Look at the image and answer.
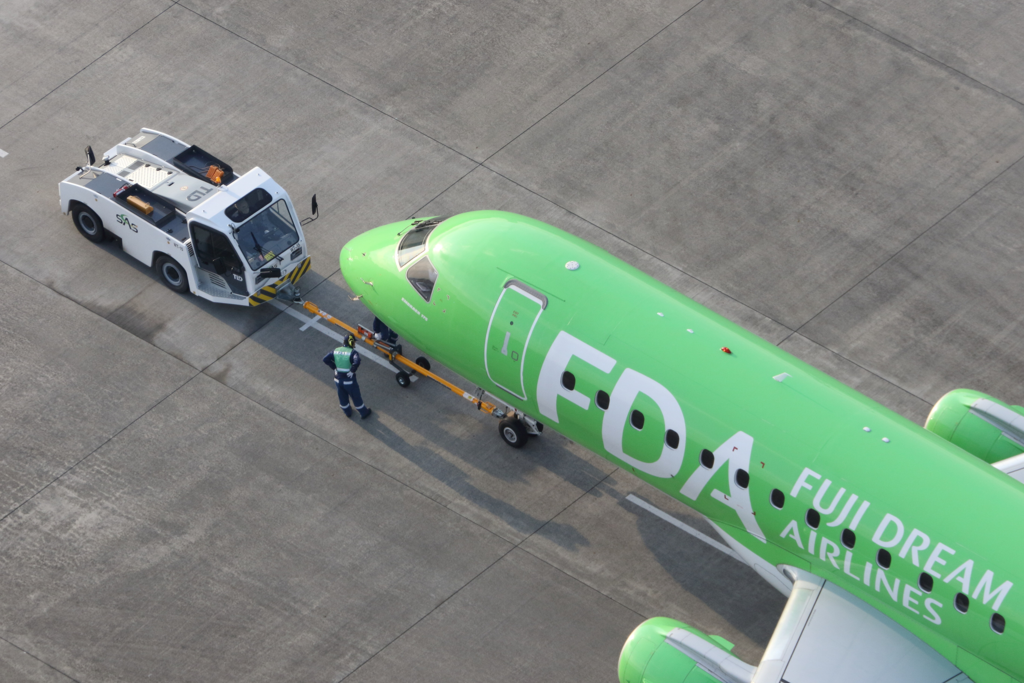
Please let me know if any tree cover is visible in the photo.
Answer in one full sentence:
No, the scene doesn't show any tree cover.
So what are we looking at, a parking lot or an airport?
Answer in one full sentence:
It's an airport.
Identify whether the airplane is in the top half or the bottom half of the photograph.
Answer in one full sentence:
You can find the airplane in the bottom half.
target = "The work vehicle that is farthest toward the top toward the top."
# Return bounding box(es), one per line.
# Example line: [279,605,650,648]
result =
[61,130,319,309]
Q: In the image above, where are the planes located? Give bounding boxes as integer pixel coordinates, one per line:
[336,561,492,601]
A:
[340,209,1024,683]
